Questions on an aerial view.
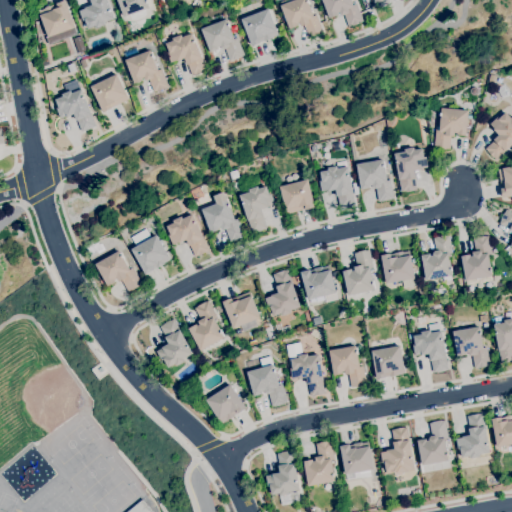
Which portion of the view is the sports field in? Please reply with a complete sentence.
The sports field is in the bottom left part of the image.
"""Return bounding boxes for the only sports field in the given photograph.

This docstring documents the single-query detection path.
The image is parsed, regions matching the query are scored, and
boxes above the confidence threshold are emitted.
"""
[0,319,86,464]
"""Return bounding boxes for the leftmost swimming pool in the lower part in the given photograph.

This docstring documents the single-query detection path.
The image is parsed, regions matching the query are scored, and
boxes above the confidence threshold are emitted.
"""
[178,362,196,380]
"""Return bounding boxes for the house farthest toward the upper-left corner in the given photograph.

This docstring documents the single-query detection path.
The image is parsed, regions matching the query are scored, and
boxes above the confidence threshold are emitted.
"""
[39,0,78,44]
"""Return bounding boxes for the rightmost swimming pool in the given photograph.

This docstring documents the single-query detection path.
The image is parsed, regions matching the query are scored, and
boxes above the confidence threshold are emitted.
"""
[204,374,224,390]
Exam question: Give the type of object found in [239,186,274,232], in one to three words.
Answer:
house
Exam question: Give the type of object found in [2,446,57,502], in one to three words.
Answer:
playground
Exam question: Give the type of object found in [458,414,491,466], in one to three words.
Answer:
house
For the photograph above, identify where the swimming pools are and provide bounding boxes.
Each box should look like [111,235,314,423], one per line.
[120,48,139,60]
[92,38,113,48]
[178,362,196,380]
[204,374,224,390]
